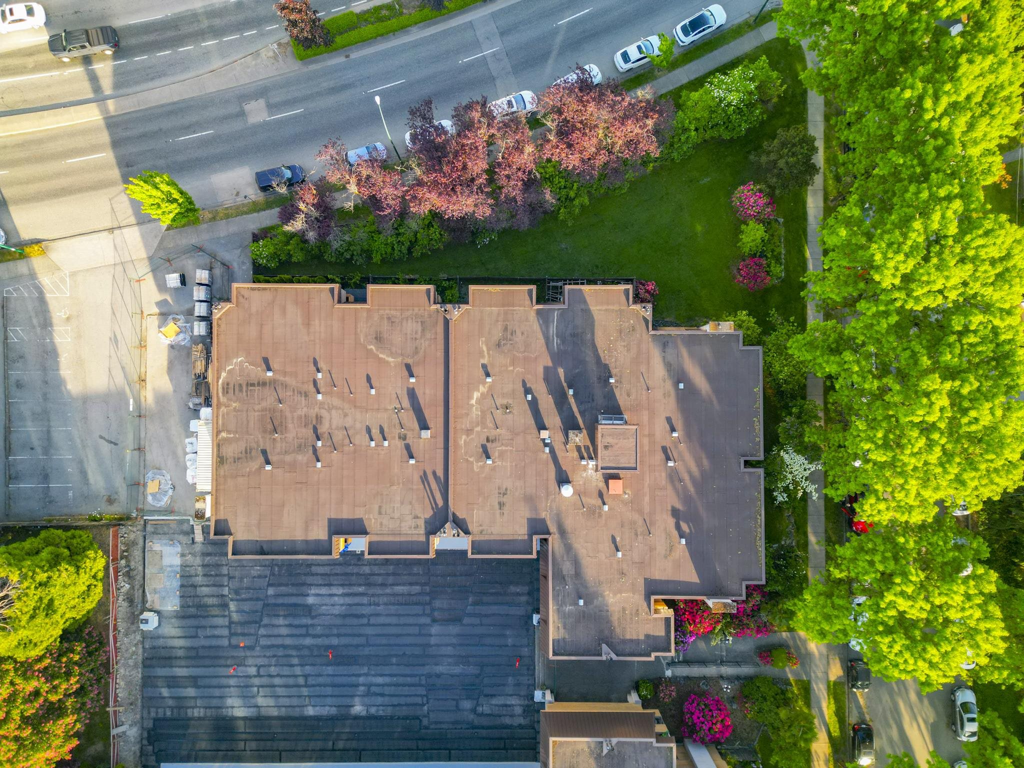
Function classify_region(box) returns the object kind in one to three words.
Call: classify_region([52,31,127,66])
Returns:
truck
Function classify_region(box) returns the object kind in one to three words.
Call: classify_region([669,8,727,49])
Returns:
car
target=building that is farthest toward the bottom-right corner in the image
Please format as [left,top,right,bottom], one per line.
[540,685,738,768]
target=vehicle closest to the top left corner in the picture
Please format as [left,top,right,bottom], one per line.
[0,5,53,36]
